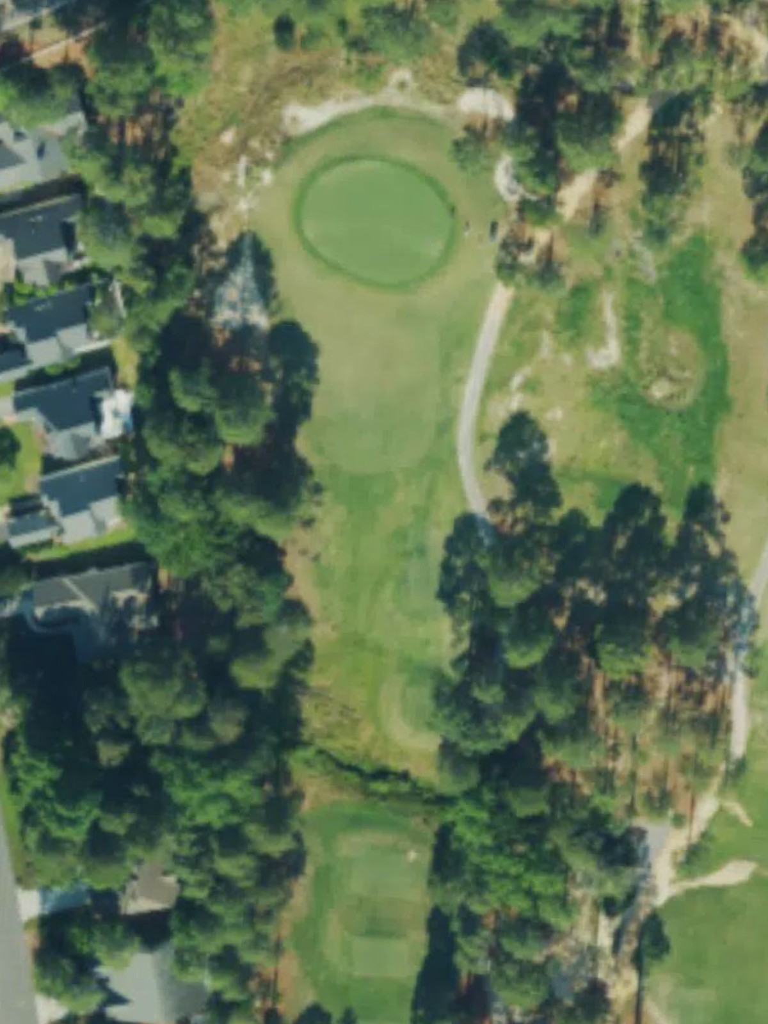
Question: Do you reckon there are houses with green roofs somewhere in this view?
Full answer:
No, I can see no house with a green roof in this picture.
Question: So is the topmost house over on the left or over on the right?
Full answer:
The topmost house sits on the left side.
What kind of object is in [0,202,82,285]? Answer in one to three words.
house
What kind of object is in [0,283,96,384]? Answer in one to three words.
house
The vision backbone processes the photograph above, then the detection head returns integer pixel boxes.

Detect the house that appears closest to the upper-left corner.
[0,113,75,192]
